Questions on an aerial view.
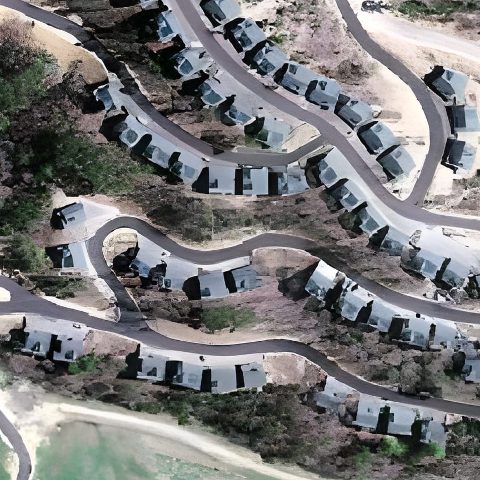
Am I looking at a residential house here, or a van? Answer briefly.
residential house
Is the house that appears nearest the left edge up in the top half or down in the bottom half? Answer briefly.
bottom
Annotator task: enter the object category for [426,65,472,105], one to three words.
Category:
house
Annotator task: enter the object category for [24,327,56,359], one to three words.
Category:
house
